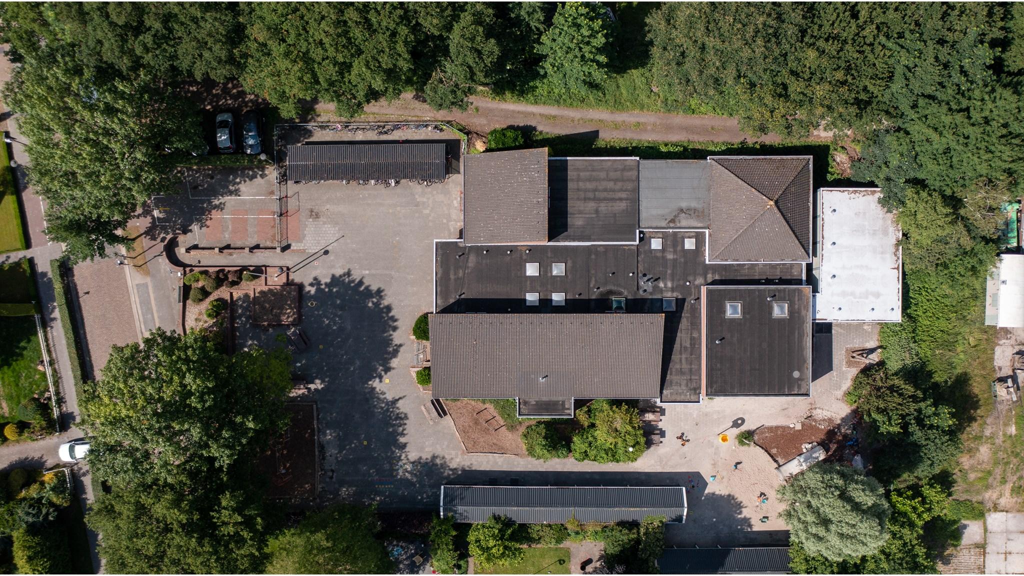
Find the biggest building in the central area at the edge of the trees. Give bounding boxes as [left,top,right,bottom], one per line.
[428,148,813,417]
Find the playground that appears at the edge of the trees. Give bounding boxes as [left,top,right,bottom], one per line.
[151,126,882,542]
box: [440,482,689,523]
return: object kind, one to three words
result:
shed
